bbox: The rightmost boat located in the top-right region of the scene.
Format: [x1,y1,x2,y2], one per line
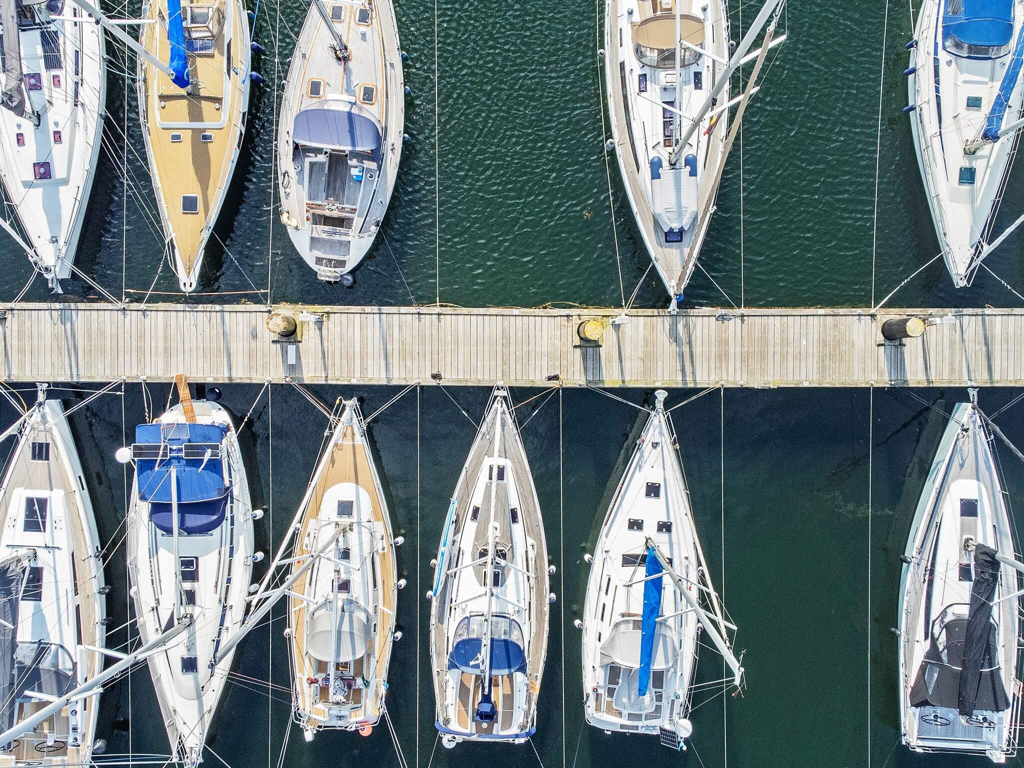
[905,0,1024,294]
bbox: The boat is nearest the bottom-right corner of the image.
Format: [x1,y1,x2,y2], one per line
[892,388,1024,761]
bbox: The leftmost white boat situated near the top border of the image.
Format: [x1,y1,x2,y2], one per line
[0,0,112,290]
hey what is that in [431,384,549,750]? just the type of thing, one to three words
boat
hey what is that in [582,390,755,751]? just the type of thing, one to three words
boat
